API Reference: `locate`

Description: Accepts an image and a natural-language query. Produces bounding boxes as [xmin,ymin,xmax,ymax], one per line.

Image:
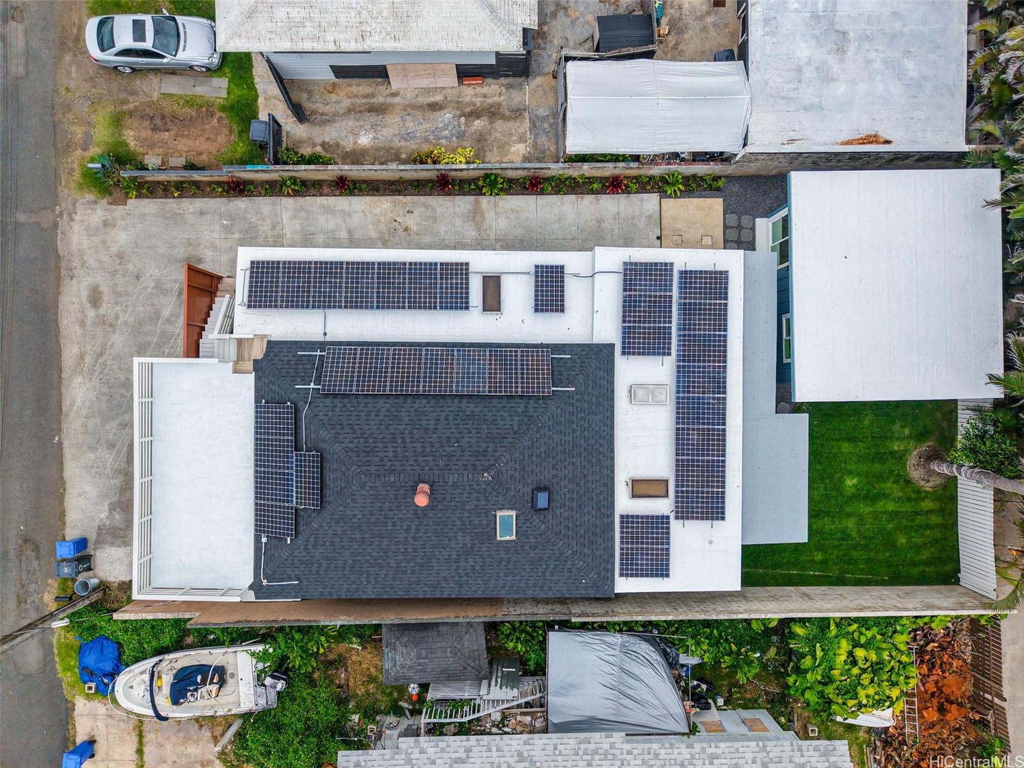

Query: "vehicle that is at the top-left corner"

[86,1,226,72]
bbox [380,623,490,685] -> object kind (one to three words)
shed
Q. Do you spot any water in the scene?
No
